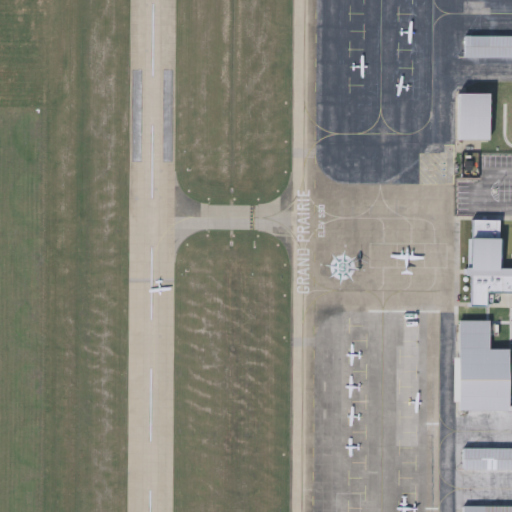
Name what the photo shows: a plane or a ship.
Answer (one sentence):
Visible in the photo is a plane.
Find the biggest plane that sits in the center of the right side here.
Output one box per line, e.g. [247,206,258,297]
[391,247,425,274]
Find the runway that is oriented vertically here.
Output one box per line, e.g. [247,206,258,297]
[128,0,176,512]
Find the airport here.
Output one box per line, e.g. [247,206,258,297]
[128,0,512,512]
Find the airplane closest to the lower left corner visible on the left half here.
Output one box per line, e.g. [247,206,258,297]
[149,280,172,296]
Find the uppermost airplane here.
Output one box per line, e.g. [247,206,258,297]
[400,20,416,44]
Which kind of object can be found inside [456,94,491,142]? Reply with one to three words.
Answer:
hangar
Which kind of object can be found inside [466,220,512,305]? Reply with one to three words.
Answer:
building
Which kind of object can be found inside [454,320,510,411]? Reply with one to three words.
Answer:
hangar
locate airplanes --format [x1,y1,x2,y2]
[391,247,425,274]
[149,280,172,296]
[408,392,422,414]
[400,20,416,44]
[346,344,361,366]
[346,376,360,398]
[352,54,368,78]
[345,437,360,458]
[396,75,410,96]
[348,404,360,426]
[397,496,417,512]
